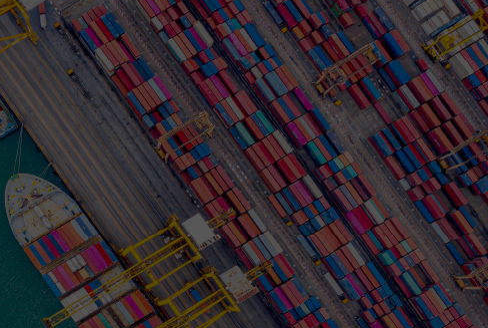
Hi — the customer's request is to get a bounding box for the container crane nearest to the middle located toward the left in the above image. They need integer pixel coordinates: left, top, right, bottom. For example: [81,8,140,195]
[153,112,217,163]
